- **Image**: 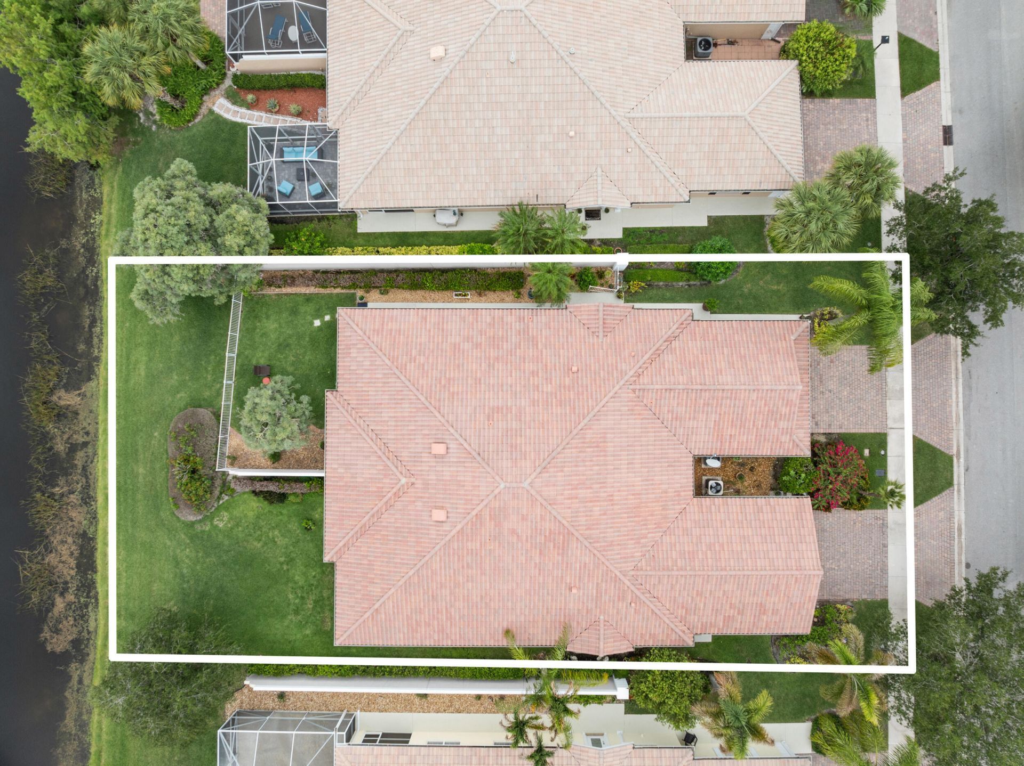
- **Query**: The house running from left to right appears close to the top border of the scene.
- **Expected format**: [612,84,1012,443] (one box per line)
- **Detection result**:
[324,0,807,217]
